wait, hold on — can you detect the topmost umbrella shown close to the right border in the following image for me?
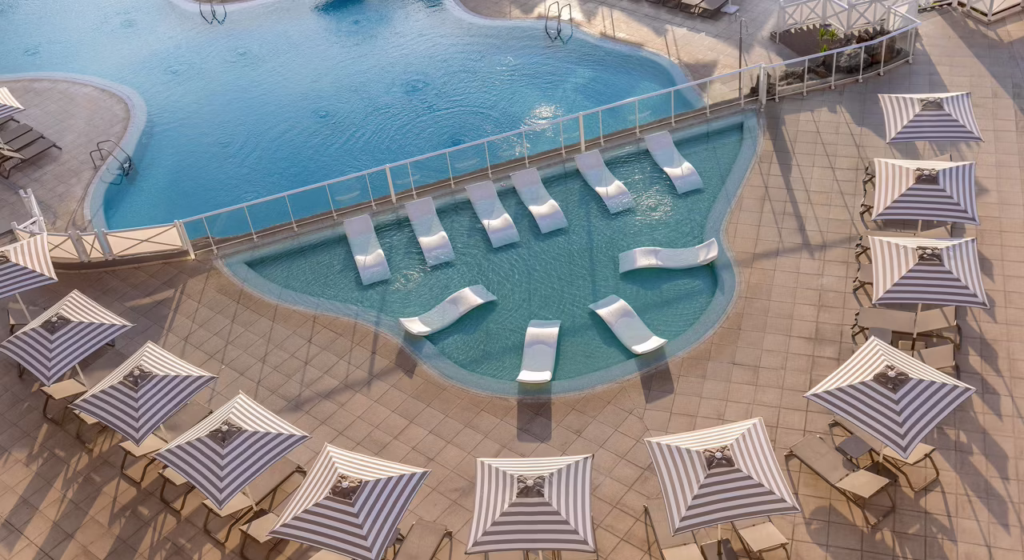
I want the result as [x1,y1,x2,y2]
[877,92,983,163]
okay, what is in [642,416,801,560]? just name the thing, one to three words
umbrella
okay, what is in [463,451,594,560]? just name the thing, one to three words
umbrella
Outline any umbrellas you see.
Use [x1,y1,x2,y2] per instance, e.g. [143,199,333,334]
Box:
[870,161,978,238]
[717,0,744,16]
[463,451,594,560]
[0,290,134,389]
[68,340,221,469]
[642,416,801,560]
[867,236,989,359]
[267,443,432,560]
[152,388,312,523]
[804,335,978,494]
[0,231,57,322]
[877,92,983,163]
